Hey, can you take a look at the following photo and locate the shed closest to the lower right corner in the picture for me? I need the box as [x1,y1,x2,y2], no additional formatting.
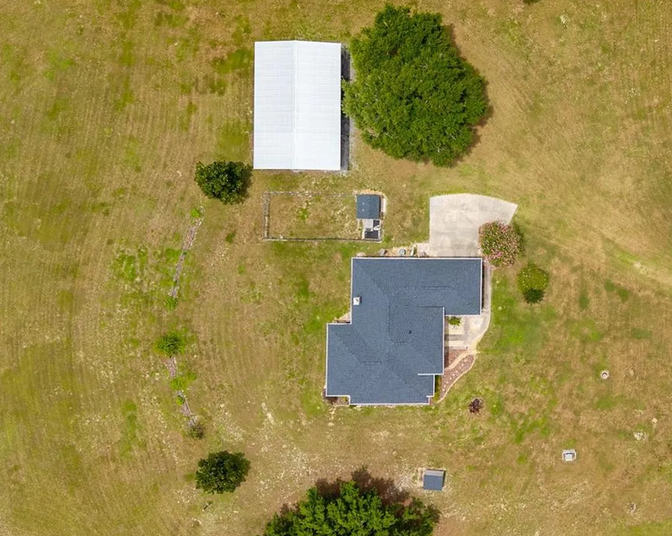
[423,470,444,490]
